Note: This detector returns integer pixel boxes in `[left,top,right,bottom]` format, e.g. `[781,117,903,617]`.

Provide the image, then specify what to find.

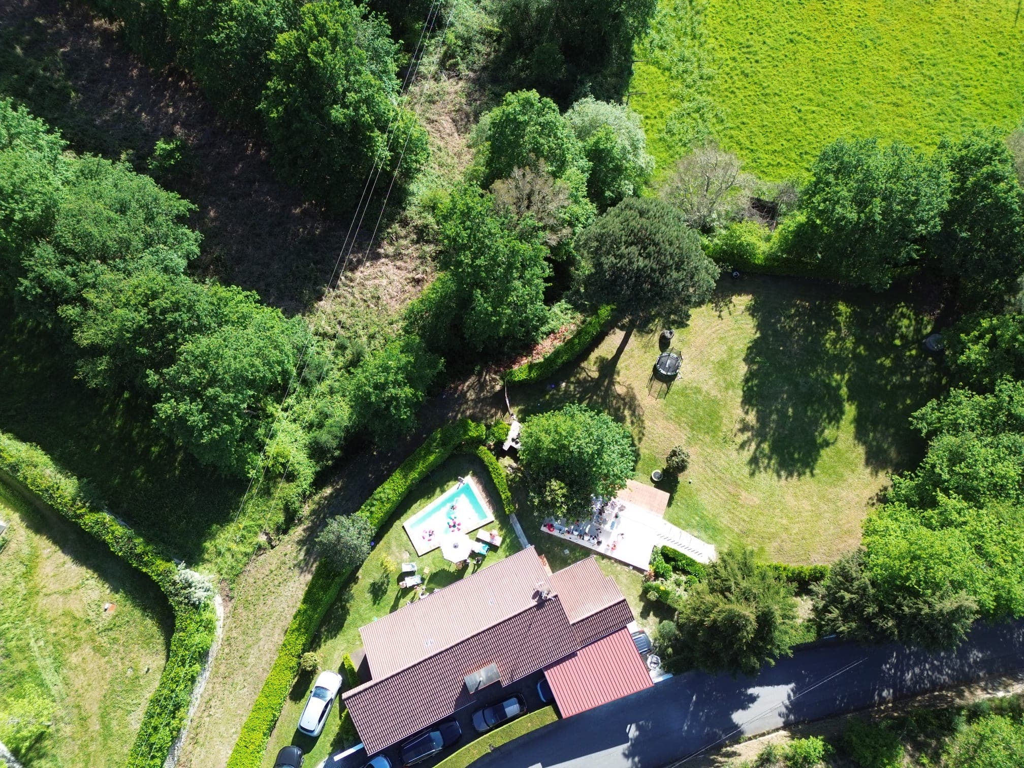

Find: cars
[630,629,656,659]
[395,714,465,768]
[300,671,344,738]
[269,746,306,768]
[471,690,530,734]
[535,675,555,703]
[341,748,394,768]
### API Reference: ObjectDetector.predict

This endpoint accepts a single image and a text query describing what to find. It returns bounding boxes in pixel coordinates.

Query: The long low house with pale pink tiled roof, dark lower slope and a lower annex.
[342,544,635,757]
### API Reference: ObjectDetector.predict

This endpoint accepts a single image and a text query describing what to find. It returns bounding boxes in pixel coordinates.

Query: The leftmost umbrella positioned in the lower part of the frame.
[440,532,473,565]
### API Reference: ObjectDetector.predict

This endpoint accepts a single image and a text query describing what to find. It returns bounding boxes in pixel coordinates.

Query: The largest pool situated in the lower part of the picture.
[404,477,494,555]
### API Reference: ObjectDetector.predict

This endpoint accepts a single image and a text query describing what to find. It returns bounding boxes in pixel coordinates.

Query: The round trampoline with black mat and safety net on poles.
[653,339,687,381]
